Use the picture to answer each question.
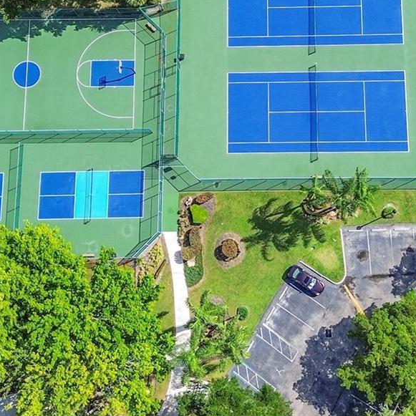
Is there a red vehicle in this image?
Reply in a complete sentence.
No, there isn't any red vehicle down there.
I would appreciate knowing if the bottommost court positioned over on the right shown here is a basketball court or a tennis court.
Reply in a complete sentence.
I'd say the bottommost court positioned over on the right is a tennis court.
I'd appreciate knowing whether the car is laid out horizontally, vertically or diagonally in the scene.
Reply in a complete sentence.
I'd say the car is aligned diagonally in the picture.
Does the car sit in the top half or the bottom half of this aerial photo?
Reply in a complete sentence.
The car is in the bottom half of the image.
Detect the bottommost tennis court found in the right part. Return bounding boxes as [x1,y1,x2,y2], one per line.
[226,69,409,153]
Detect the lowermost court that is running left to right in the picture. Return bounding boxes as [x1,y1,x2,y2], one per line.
[38,170,143,219]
